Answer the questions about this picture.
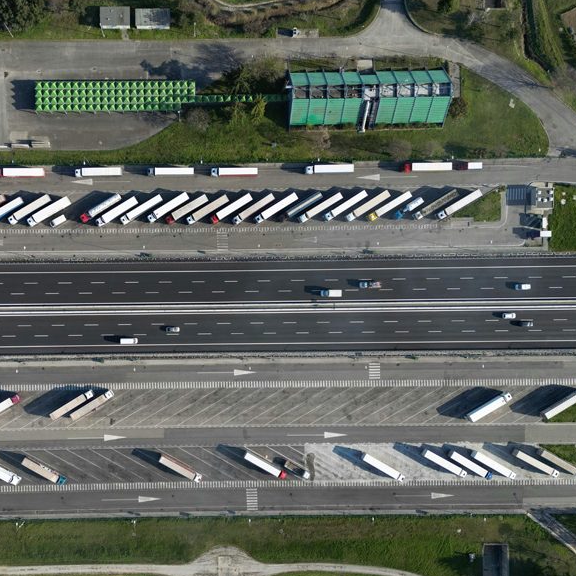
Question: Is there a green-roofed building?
Yes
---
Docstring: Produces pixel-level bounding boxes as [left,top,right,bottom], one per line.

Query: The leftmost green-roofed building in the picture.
[285,69,447,131]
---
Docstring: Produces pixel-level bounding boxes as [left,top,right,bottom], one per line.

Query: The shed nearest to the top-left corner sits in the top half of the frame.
[100,7,130,33]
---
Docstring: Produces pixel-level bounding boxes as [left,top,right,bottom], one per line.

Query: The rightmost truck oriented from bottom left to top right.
[540,390,576,420]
